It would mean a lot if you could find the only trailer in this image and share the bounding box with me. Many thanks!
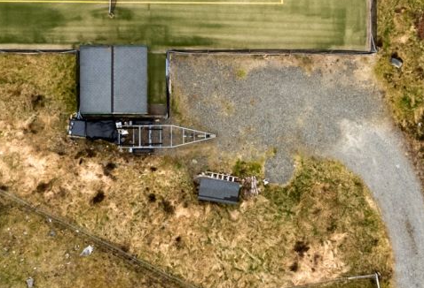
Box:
[119,120,218,153]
